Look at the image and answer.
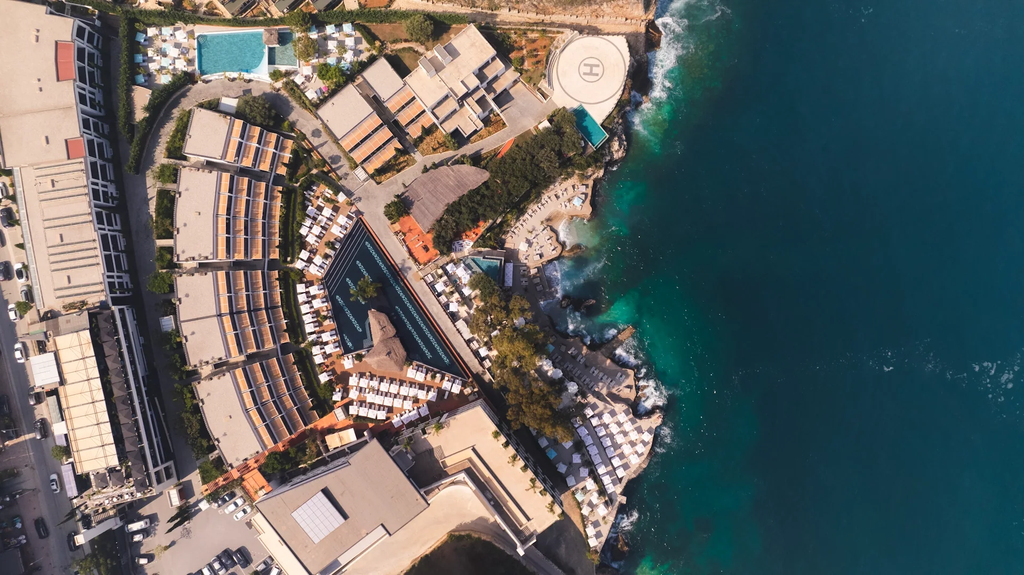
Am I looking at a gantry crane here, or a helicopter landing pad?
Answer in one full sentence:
Of the two, only a helicopter landing pad appears.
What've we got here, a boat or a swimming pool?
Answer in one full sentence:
This aerial view contains a swimming pool.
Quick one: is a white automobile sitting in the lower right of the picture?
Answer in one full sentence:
No, the scene shows no white automobile in the lower right of the picture.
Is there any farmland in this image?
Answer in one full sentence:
No, farmland can't be seen anywhere here.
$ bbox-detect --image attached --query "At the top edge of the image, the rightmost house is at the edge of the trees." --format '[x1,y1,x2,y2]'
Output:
[403,23,521,146]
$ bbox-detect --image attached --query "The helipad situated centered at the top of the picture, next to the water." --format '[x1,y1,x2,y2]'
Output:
[553,35,630,123]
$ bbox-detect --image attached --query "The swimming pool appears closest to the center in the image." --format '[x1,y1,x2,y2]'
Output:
[470,256,500,284]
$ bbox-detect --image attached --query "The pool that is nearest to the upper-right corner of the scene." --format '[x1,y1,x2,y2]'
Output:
[572,105,608,149]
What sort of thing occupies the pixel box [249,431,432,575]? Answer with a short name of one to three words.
building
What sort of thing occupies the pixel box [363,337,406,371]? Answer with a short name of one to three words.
shed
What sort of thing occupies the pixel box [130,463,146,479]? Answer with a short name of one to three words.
umbrella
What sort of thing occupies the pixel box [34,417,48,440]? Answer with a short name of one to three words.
car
